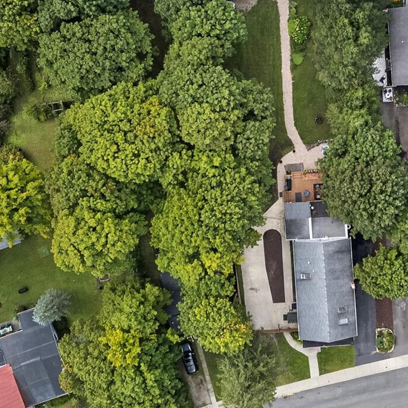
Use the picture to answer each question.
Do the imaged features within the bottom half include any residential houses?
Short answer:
Yes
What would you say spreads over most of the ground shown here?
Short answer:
trees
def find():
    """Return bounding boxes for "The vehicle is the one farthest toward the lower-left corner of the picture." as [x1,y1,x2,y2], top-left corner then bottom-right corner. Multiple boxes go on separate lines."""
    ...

[180,341,198,380]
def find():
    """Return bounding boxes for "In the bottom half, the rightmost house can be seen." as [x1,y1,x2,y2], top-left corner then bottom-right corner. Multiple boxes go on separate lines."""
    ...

[285,201,357,350]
